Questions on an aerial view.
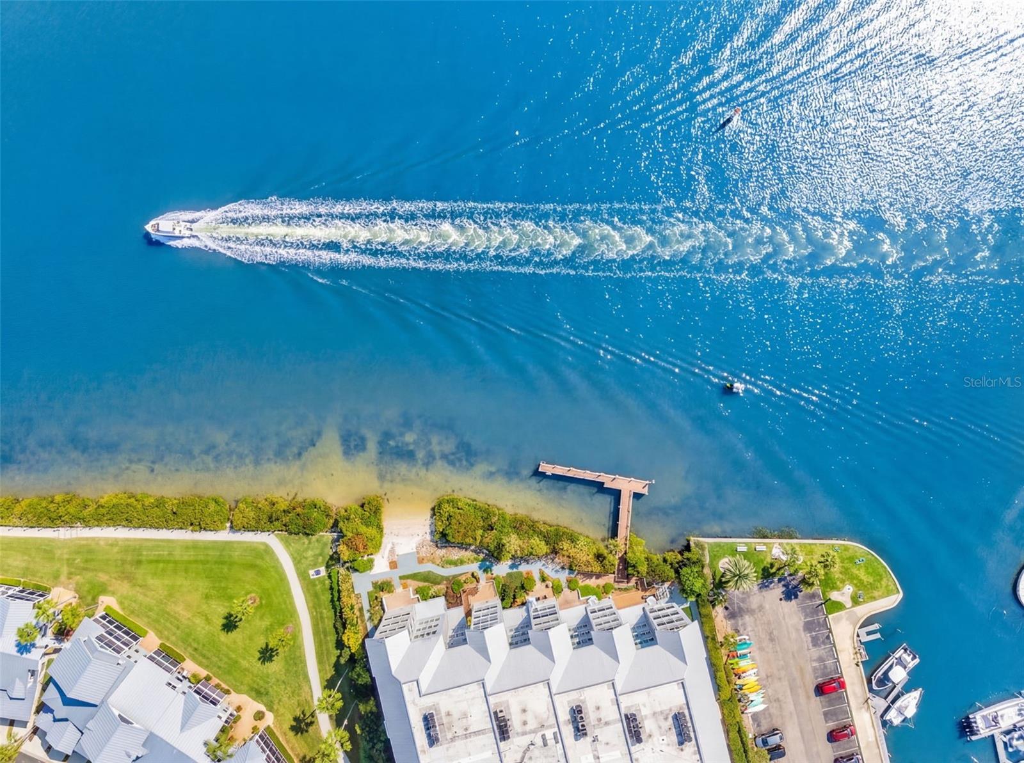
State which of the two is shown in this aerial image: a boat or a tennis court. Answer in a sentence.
The one in the frame is a boat.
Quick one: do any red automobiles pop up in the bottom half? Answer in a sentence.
Yes, the scene does show a red automobile in the bottom half.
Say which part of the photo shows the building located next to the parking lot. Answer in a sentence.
Look in the bottom portion of the view to spot the building located next to the parking lot.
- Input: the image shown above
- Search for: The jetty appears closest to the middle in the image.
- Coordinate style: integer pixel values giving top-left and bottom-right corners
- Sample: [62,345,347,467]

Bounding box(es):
[539,461,655,583]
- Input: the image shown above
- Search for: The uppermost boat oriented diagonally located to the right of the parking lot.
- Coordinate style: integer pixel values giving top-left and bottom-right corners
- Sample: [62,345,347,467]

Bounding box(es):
[873,643,920,690]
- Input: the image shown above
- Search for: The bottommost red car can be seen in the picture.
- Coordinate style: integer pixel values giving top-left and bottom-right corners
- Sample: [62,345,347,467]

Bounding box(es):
[827,723,856,742]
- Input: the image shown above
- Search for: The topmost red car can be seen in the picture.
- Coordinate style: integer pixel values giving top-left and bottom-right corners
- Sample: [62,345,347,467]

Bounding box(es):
[815,677,845,695]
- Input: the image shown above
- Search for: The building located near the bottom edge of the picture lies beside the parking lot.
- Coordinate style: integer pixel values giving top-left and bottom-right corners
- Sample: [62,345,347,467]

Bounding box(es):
[365,589,731,763]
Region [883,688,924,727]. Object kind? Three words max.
boat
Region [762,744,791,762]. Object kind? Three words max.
car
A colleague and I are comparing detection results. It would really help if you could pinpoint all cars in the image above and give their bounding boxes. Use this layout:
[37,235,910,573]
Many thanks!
[827,723,856,742]
[815,677,845,695]
[834,750,864,763]
[754,729,784,748]
[762,744,791,762]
